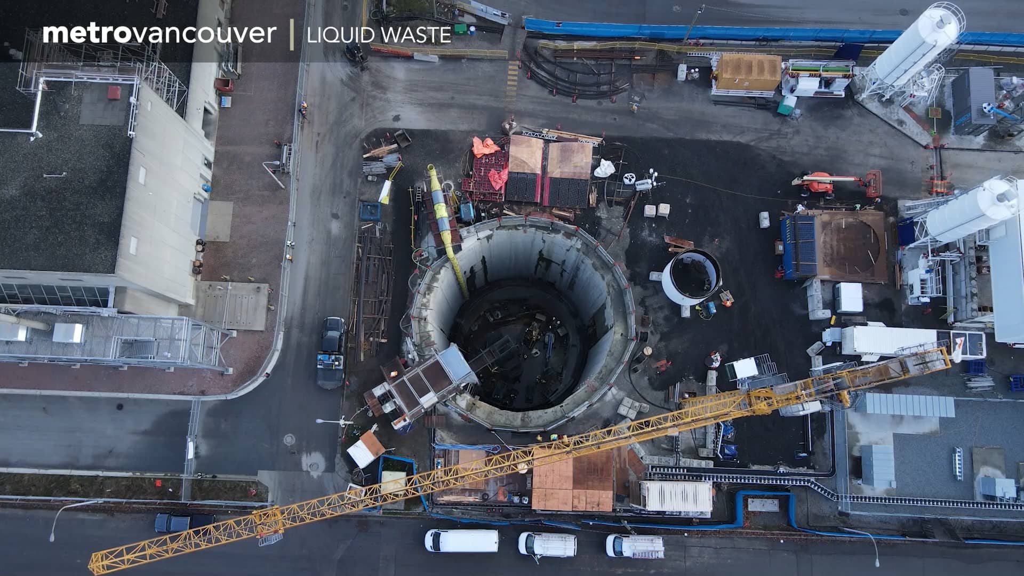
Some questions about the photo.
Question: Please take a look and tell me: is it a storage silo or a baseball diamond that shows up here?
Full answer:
There is a storage silo in the scene.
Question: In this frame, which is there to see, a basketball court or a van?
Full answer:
Visible in the photo is a van.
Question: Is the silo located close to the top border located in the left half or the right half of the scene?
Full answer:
The silo located close to the top border sits on the right side.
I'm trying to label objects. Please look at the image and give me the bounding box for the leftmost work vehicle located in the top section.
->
[339,33,371,73]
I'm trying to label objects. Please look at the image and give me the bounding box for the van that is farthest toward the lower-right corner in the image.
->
[603,535,671,565]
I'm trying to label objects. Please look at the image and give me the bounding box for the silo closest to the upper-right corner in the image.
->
[854,0,972,105]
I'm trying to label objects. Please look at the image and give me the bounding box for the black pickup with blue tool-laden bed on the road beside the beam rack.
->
[317,317,345,392]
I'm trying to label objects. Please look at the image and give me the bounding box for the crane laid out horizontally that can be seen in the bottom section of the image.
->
[86,331,953,573]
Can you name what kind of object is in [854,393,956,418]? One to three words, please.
shed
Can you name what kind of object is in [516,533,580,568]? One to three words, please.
van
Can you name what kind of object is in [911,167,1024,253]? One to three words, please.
silo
